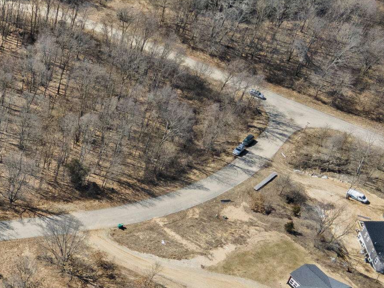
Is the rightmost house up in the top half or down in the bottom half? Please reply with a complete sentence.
You can find the rightmost house in the bottom half.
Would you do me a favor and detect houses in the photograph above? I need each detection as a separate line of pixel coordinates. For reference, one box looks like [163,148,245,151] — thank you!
[351,214,384,285]
[286,265,352,288]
